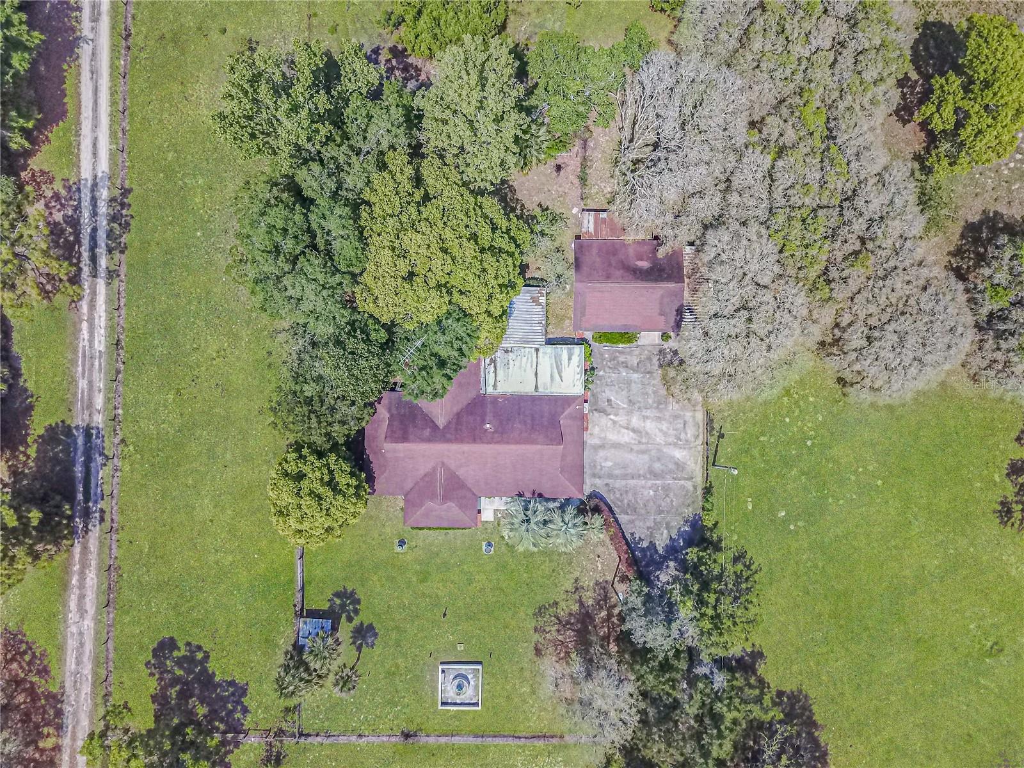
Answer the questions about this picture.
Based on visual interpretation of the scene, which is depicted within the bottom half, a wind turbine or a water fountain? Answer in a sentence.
You can see a water fountain within the bottom half.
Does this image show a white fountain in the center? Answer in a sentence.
No, there is no white fountain in the center.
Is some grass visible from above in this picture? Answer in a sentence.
Yes, grass can be seen from above here.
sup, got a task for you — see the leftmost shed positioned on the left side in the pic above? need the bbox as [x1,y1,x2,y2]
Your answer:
[299,613,335,646]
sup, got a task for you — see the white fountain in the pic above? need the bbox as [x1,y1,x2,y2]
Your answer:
[439,661,482,710]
